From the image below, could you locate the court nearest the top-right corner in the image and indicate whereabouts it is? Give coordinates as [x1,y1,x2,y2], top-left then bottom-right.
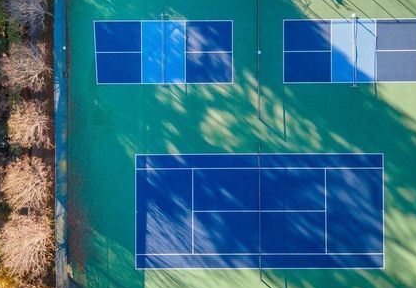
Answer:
[283,19,416,82]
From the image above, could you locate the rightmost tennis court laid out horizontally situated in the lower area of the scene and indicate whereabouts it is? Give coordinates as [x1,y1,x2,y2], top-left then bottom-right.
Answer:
[135,153,385,271]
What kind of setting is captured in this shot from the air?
sports ground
